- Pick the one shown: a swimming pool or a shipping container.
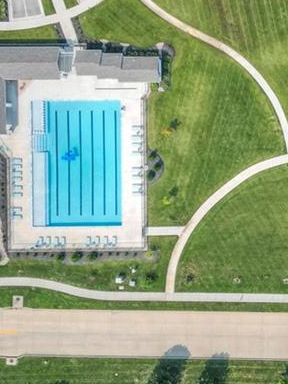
swimming pool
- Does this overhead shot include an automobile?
No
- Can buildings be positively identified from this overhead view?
Yes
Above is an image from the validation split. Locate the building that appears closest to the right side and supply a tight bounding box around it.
[71,50,161,82]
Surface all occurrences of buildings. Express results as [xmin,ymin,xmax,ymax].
[0,47,64,135]
[71,50,161,82]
